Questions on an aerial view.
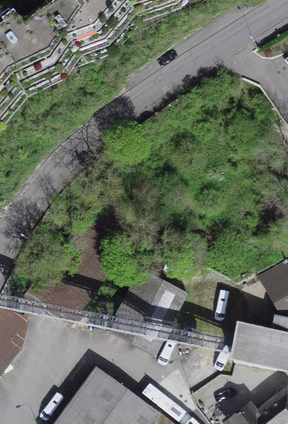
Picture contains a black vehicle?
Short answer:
Yes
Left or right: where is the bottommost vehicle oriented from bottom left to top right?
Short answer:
left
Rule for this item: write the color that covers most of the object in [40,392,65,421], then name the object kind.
white vehicle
